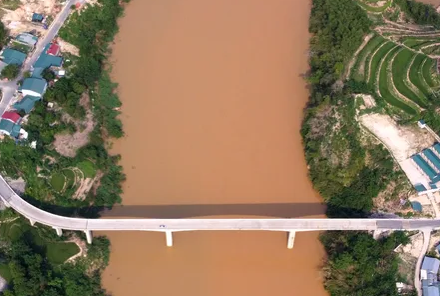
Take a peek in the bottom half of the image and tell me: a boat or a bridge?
bridge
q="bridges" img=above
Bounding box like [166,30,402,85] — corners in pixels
[1,190,384,249]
